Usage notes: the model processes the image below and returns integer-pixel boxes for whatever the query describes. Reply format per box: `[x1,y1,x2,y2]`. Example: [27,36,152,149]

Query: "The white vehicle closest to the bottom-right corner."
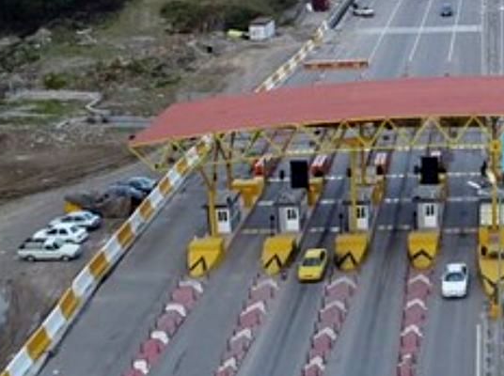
[439,268,469,303]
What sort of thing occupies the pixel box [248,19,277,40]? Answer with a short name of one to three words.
shed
